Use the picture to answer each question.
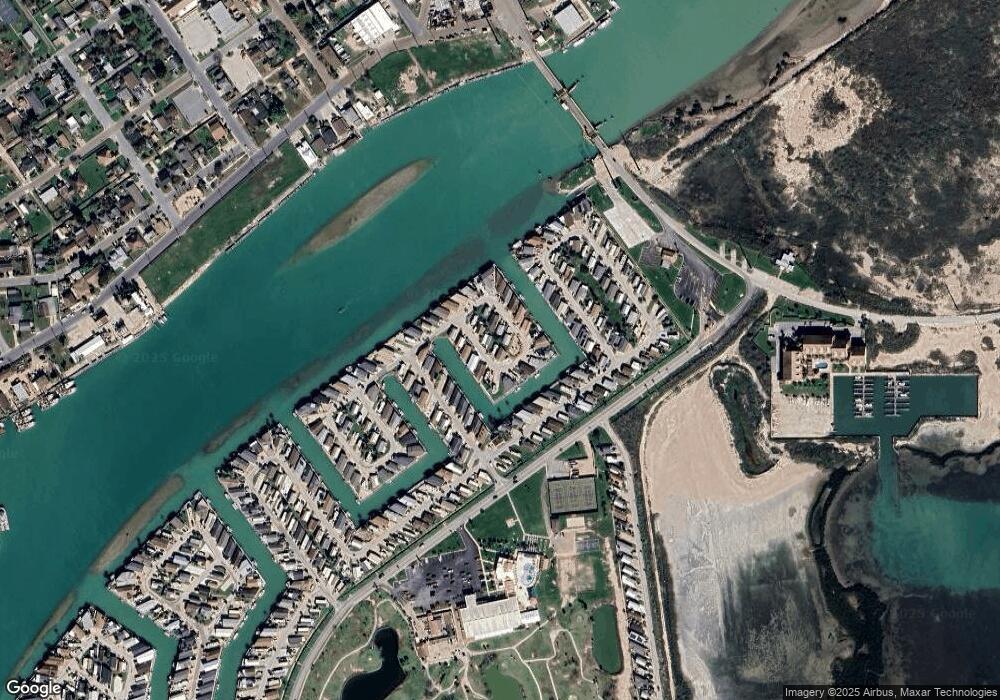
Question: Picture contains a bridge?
Yes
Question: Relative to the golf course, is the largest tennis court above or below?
above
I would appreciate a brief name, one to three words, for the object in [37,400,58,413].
boat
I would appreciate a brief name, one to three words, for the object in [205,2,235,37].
building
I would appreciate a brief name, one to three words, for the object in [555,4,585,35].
building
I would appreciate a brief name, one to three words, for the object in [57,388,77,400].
boat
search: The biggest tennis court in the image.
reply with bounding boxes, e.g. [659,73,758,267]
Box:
[547,475,597,515]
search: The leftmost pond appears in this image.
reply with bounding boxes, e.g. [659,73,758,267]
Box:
[341,627,410,700]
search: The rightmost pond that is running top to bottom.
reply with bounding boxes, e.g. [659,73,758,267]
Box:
[592,604,622,675]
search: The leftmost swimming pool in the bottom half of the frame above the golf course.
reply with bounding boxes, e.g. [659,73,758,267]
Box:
[518,554,539,587]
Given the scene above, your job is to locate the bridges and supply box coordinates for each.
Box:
[527,49,607,154]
